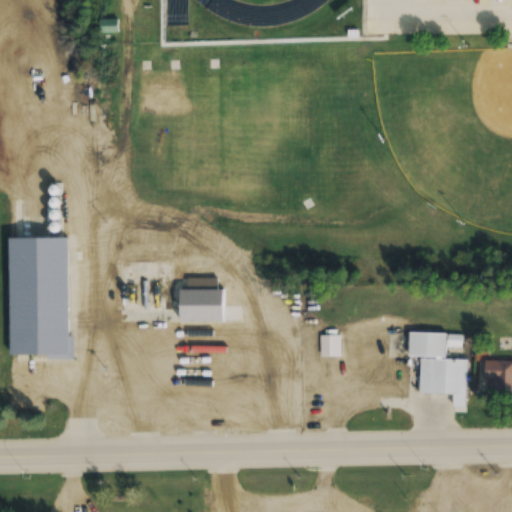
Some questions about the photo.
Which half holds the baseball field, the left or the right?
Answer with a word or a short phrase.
right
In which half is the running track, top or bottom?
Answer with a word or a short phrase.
top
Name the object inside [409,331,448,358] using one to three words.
building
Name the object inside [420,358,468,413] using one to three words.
house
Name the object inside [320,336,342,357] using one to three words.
shed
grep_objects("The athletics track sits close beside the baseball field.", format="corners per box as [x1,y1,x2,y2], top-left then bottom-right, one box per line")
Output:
[168,0,331,28]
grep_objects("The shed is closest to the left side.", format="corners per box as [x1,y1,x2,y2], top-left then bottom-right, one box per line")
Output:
[9,238,78,358]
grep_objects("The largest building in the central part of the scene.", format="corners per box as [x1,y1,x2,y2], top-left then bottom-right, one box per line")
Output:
[178,278,225,322]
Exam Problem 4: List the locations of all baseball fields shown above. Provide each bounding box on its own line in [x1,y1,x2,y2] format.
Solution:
[375,50,512,234]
